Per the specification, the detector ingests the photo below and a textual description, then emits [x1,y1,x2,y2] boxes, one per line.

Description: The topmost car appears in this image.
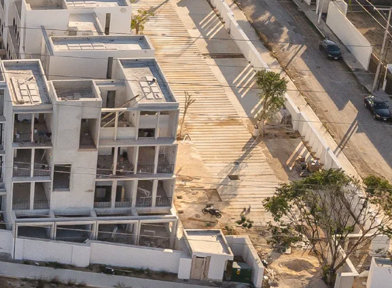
[320,34,344,56]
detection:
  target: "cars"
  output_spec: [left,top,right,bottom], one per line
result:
[367,92,392,116]
[320,34,344,56]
